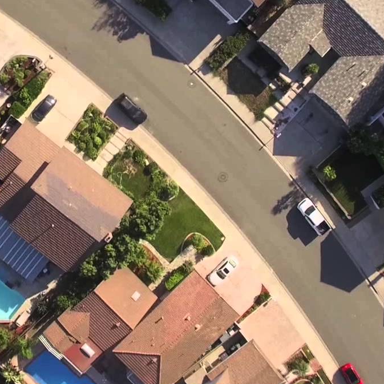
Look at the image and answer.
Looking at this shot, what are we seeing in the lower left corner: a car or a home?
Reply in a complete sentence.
It is a home that can be seen in the lower left corner.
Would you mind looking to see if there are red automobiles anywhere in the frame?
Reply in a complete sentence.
Yes, you can see a red automobile in this photo.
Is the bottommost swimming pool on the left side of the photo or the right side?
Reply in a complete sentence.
You can find the bottommost swimming pool on the left side of the picture.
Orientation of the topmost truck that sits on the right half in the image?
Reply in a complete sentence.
What the image shows is the topmost truck that sits on the right half lying on a diagonal.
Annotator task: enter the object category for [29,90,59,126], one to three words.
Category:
car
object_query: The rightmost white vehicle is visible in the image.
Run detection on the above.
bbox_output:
[296,196,336,239]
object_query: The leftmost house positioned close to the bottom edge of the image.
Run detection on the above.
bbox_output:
[39,270,157,374]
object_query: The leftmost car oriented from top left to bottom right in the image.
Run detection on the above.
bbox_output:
[114,91,150,126]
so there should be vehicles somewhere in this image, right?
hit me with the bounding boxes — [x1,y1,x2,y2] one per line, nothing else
[114,91,150,126]
[206,254,241,288]
[338,360,362,384]
[296,196,336,239]
[29,90,59,126]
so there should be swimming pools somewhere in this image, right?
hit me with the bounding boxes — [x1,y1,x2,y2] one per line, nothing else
[22,343,93,384]
[0,268,28,324]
